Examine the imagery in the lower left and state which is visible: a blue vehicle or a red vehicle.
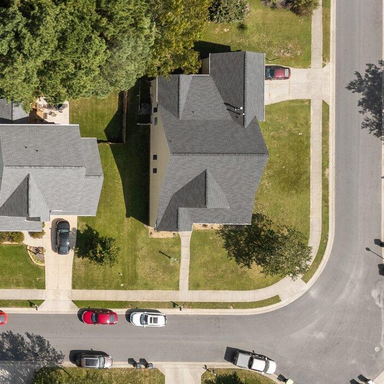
red vehicle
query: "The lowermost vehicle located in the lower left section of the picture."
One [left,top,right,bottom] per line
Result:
[76,352,111,370]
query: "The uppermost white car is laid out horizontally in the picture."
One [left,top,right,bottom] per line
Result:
[130,311,167,328]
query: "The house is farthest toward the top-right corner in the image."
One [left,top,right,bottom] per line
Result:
[150,48,267,233]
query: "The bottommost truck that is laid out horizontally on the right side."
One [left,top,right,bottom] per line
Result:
[232,350,275,373]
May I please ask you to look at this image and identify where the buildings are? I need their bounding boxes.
[0,98,105,232]
[150,48,267,233]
